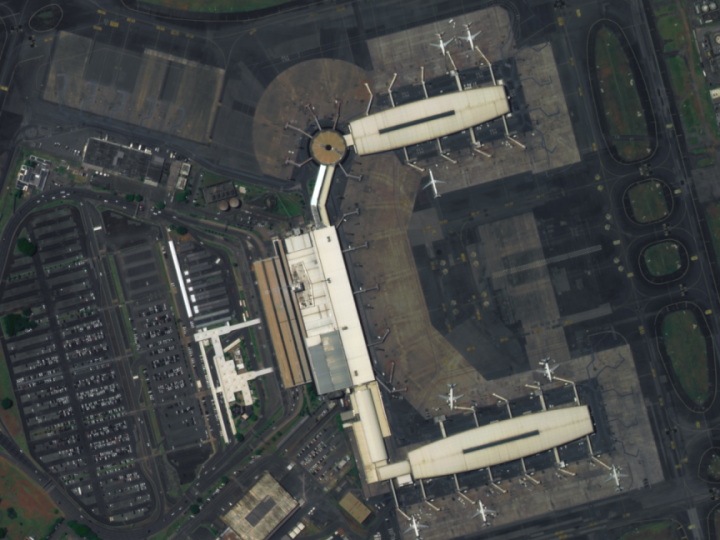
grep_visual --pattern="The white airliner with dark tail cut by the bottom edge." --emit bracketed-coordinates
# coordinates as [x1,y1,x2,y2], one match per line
[405,516,431,540]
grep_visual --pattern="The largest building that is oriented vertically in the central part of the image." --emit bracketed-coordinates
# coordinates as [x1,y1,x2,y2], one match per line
[285,225,376,395]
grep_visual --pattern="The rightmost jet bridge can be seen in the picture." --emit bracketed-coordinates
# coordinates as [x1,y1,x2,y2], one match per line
[587,435,614,472]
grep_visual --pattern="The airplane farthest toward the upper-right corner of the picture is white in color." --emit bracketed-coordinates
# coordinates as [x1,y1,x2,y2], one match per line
[457,24,481,51]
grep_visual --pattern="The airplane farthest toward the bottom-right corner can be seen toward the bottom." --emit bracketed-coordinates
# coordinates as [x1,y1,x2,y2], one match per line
[606,465,631,493]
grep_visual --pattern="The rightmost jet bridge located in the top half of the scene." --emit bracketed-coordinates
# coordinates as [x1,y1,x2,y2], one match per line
[503,114,527,149]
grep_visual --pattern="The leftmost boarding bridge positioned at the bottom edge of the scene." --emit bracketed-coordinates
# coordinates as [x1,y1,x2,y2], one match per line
[390,479,413,522]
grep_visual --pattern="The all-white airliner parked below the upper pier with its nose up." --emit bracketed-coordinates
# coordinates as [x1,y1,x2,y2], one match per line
[423,169,449,198]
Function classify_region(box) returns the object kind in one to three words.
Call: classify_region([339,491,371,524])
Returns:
building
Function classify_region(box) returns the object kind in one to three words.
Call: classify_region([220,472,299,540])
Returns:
building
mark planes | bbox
[405,516,431,540]
[457,24,481,51]
[430,32,452,56]
[536,356,558,382]
[440,384,464,410]
[473,501,497,527]
[606,465,631,493]
[423,169,449,198]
